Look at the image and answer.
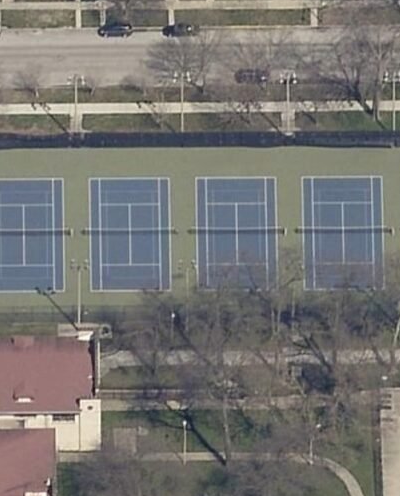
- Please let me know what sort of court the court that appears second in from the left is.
tennis court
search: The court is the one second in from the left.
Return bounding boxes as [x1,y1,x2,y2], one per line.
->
[89,177,172,291]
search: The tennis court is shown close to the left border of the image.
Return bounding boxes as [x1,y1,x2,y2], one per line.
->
[0,177,65,291]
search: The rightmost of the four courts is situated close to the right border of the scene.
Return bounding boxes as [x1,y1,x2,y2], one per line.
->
[301,175,385,289]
